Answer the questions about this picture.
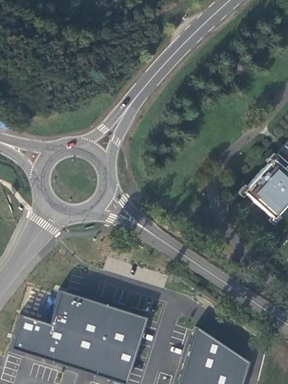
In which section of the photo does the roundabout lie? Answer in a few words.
left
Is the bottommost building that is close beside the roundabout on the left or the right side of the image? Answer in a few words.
left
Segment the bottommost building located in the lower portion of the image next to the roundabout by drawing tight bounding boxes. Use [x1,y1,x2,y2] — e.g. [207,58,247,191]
[13,290,148,384]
